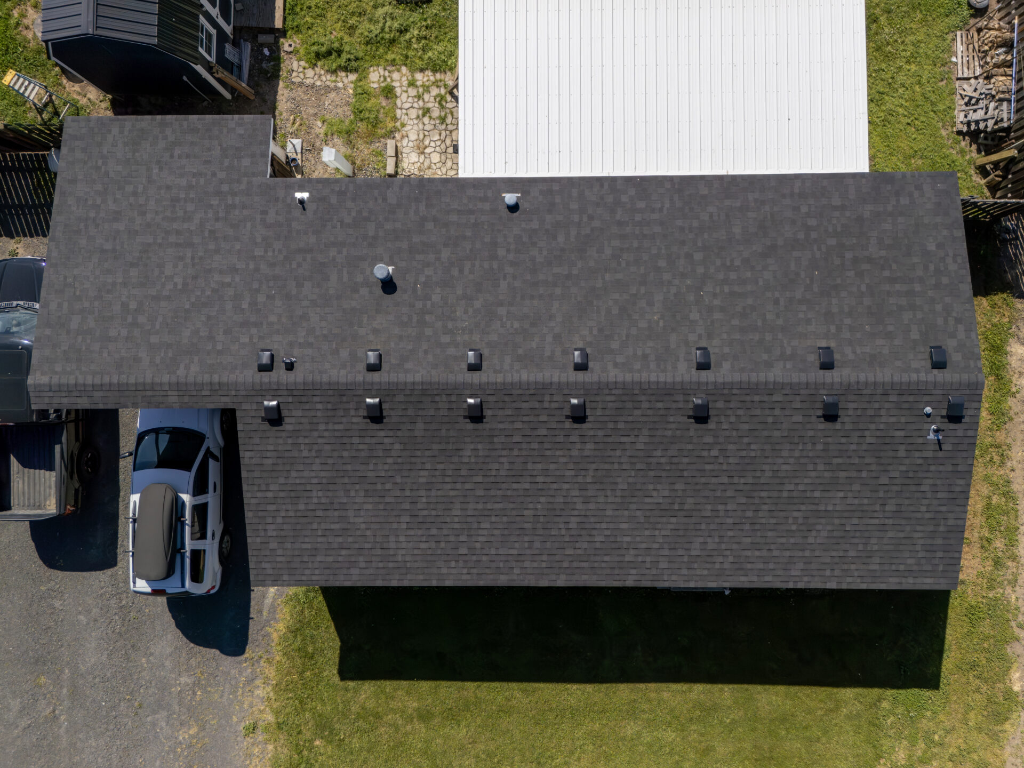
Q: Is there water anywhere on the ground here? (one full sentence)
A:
No, the picture contains no water.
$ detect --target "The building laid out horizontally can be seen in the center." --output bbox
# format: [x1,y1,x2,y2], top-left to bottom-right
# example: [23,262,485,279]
[26,114,988,589]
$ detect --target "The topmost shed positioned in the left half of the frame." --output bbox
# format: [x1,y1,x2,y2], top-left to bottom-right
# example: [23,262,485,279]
[49,0,232,98]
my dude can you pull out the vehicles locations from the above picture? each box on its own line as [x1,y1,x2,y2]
[124,407,231,599]
[0,252,94,520]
